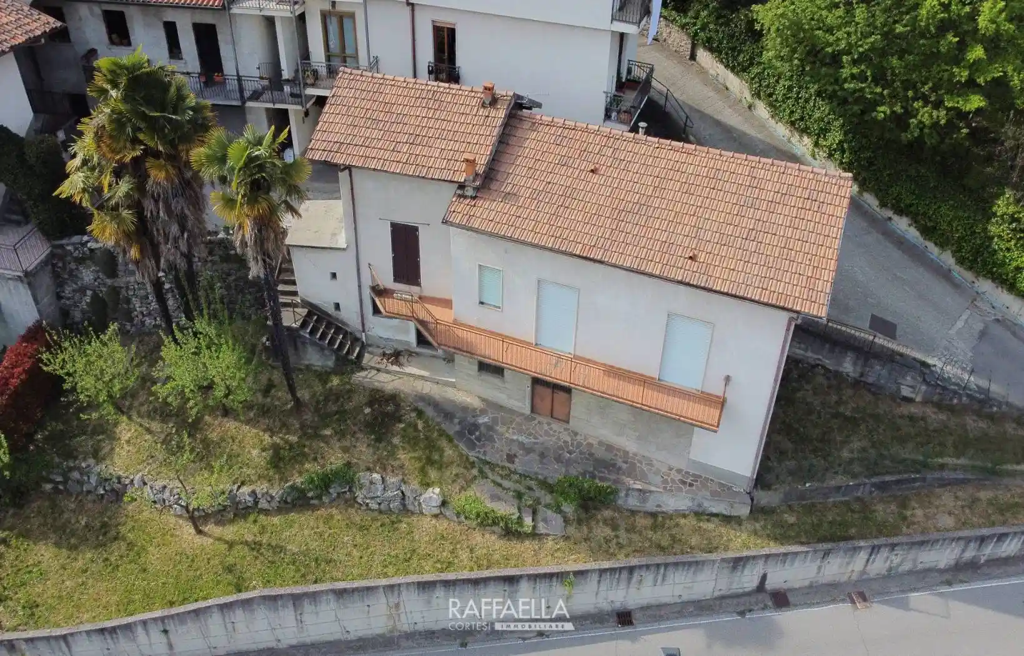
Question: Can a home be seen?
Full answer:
Yes, this view includes a home.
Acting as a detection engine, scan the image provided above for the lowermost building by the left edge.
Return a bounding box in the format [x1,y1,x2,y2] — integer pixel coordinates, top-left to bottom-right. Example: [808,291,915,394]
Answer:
[0,222,73,334]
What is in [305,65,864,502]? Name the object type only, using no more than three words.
house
